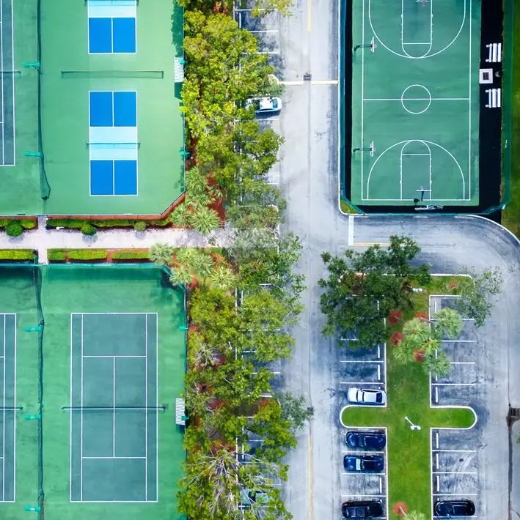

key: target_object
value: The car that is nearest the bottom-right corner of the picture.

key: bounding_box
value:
[433,498,474,519]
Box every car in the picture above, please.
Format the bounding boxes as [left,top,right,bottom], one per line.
[346,387,385,405]
[345,431,385,450]
[342,498,383,519]
[433,498,474,519]
[247,96,284,113]
[342,455,383,473]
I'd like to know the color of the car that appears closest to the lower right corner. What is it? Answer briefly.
black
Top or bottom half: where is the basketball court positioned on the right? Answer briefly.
top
